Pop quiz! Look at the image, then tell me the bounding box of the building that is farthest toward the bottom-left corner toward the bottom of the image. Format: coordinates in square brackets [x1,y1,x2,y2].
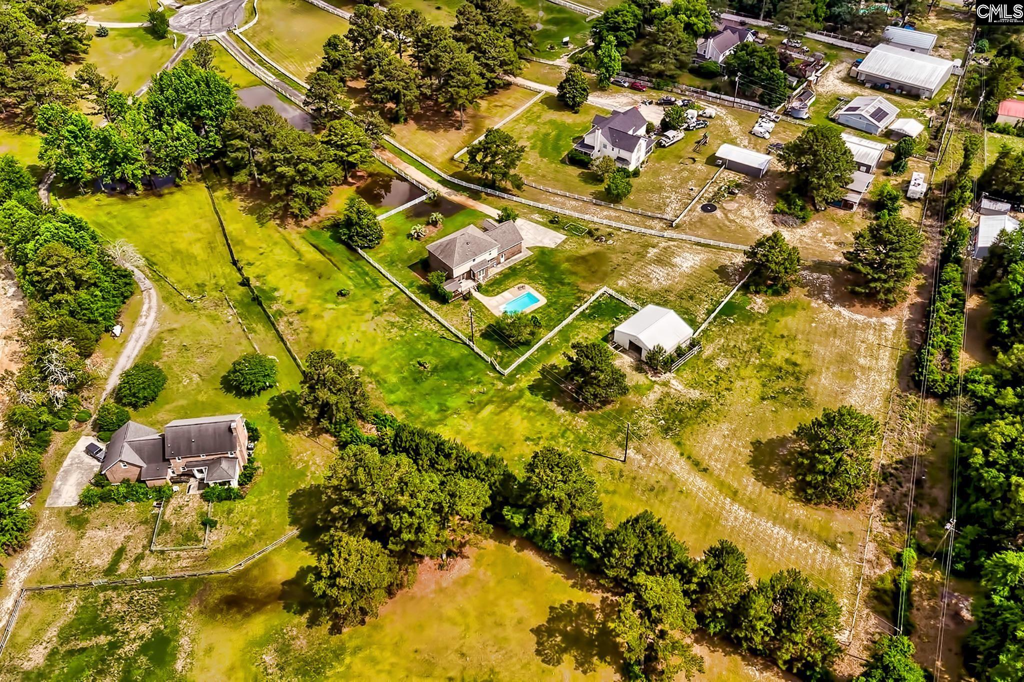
[101,414,249,490]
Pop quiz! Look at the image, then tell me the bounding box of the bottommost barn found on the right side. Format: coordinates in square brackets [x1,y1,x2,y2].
[614,304,700,371]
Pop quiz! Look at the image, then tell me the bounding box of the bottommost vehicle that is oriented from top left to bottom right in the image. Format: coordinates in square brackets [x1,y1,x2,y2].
[81,439,106,464]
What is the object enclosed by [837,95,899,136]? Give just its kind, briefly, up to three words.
barn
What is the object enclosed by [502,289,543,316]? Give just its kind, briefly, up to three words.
swimming pool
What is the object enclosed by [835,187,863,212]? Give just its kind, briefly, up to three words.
shed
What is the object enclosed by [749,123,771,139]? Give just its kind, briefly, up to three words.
vehicle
